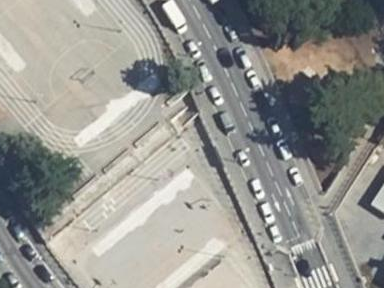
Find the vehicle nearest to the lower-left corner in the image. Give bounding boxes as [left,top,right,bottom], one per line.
[3,272,20,288]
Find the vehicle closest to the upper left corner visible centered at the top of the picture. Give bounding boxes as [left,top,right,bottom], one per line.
[160,0,186,34]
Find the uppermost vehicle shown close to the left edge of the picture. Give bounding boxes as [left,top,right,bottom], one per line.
[6,217,24,240]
